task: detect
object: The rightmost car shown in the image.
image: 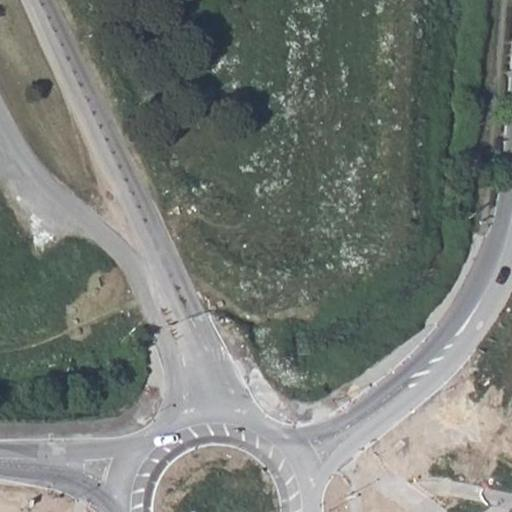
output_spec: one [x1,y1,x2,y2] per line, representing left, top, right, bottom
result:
[496,266,510,284]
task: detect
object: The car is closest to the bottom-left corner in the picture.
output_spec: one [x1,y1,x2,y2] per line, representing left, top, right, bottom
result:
[154,434,180,447]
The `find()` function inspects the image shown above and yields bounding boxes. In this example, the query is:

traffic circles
[113,405,321,512]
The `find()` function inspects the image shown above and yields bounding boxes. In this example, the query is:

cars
[154,434,180,447]
[496,266,510,284]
